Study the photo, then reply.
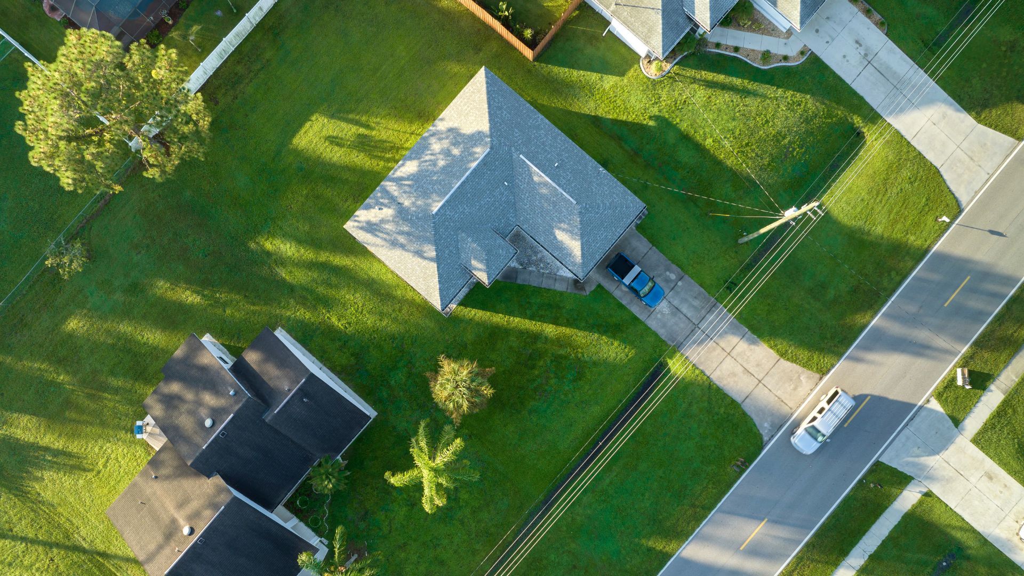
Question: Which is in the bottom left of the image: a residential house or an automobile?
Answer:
residential house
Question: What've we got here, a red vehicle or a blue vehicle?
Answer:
blue vehicle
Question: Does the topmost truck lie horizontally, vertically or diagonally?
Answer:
diagonally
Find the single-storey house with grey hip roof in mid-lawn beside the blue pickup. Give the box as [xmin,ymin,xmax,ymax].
[342,66,648,313]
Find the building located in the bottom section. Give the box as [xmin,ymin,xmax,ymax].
[106,327,373,576]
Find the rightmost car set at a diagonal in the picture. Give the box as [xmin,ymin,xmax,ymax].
[791,387,856,452]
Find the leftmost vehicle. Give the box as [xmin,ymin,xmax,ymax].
[604,251,664,308]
